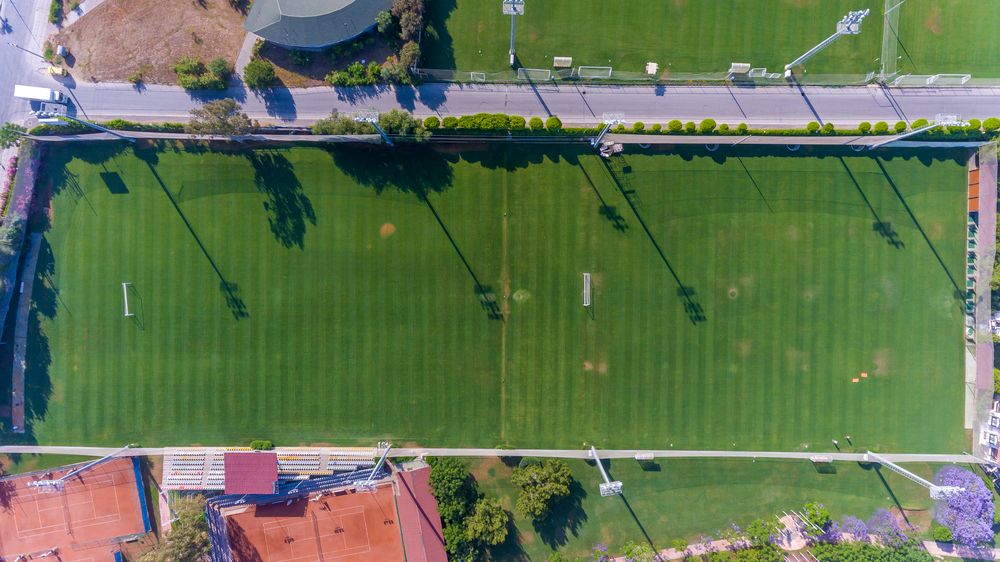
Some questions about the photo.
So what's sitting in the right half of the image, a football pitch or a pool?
football pitch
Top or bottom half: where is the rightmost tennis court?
bottom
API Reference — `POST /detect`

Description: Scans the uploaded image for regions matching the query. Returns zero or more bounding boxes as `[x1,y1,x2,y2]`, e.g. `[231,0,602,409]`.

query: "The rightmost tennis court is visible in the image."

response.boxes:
[224,481,407,562]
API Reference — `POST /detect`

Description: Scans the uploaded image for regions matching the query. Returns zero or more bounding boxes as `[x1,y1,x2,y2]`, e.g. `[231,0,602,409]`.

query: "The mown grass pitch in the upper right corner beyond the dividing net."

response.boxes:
[880,0,1000,82]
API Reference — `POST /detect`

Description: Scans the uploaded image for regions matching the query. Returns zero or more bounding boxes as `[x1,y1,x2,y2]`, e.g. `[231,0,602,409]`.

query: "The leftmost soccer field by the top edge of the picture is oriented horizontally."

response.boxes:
[421,0,880,82]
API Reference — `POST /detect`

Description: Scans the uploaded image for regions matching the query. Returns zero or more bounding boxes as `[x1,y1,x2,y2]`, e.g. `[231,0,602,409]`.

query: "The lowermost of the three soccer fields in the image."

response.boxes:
[0,147,971,458]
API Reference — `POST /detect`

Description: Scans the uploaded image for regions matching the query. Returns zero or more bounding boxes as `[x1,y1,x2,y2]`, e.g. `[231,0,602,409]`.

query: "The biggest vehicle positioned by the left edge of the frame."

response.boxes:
[13,87,71,106]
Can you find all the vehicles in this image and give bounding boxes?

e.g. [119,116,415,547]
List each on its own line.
[48,65,73,78]
[13,87,71,106]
